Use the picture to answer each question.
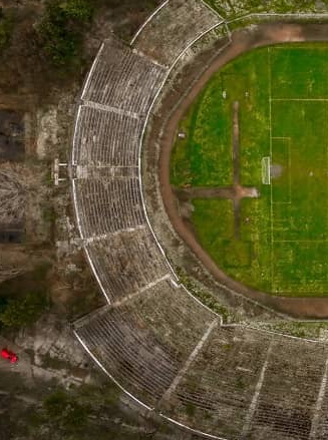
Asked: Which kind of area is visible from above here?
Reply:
sports ground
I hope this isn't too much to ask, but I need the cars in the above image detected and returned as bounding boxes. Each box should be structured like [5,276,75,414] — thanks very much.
[1,348,18,361]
